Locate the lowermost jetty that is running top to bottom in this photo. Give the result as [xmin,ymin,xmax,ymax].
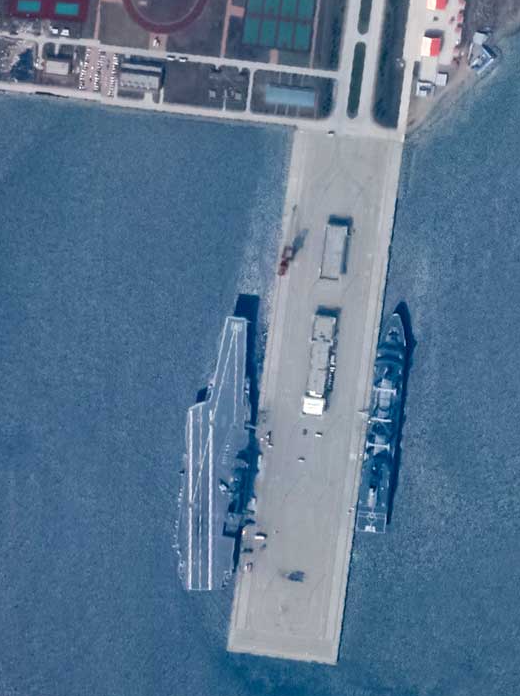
[227,129,404,665]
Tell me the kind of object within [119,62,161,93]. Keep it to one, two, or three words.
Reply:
building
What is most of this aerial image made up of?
water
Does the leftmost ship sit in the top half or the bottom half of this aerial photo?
bottom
